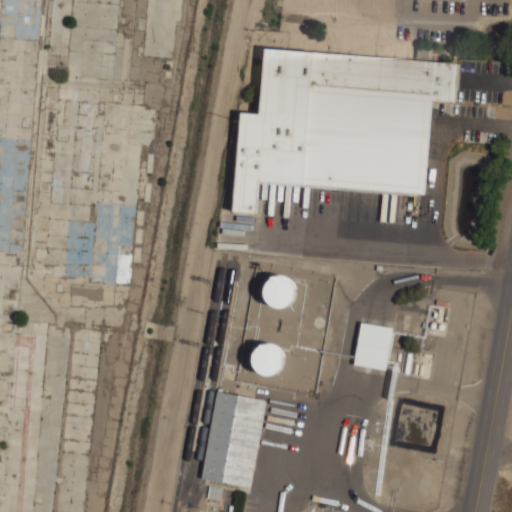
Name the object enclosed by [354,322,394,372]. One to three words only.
building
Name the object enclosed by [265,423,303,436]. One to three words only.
vehicle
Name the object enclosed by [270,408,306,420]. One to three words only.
vehicle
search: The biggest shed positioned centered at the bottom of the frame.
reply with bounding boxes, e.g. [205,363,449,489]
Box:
[202,390,266,490]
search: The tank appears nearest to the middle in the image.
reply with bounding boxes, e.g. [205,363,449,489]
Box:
[262,275,298,310]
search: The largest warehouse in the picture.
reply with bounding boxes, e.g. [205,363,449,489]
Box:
[232,48,460,214]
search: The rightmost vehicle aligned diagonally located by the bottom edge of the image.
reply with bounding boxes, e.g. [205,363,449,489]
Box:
[348,488,384,512]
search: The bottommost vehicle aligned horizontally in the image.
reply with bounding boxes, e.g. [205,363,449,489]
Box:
[312,496,350,510]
